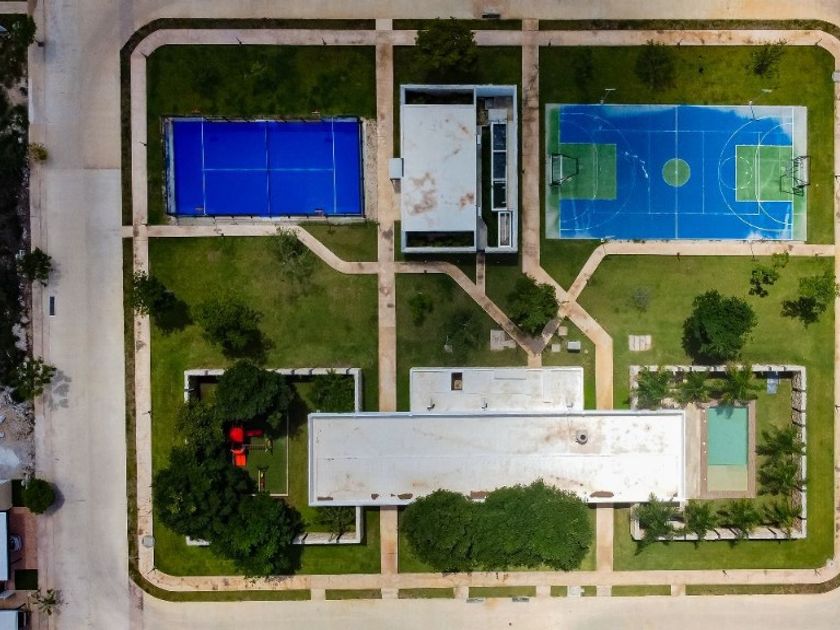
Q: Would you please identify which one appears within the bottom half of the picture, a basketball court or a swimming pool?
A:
swimming pool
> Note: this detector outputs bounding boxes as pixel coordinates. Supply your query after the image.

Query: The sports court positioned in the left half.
[164,115,365,223]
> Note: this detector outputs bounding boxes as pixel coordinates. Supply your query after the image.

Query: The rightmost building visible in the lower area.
[308,367,685,505]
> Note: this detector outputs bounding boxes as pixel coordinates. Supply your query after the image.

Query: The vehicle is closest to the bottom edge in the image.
[7,532,26,550]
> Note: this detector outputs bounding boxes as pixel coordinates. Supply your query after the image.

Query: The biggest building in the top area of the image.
[390,85,517,254]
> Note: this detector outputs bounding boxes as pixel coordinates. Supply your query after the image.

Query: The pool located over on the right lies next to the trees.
[684,402,756,499]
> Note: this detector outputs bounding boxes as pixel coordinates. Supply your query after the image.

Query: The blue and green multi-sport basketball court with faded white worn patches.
[546,103,807,241]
